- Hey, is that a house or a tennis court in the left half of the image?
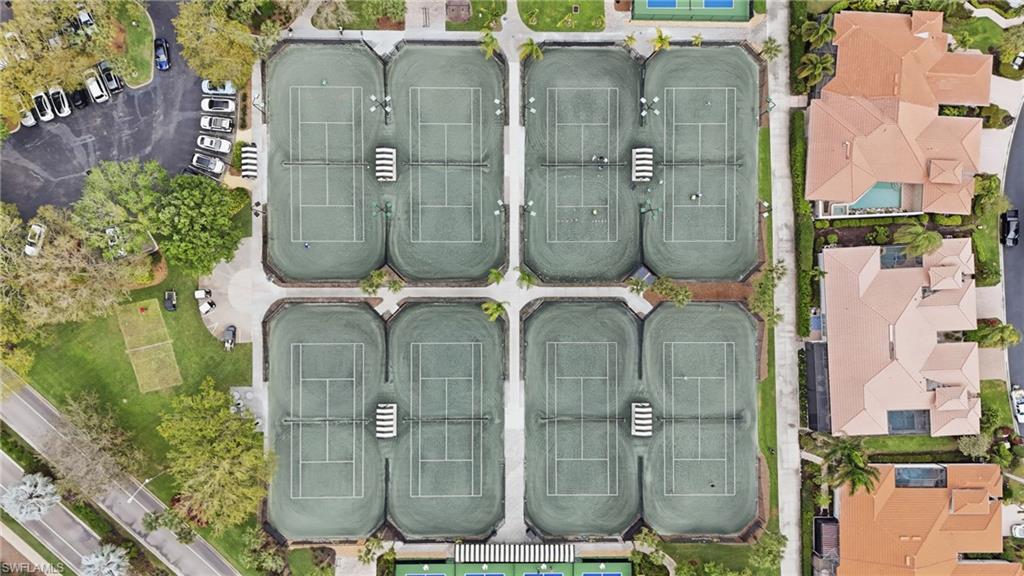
tennis court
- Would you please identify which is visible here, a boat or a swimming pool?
swimming pool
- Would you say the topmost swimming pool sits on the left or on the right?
right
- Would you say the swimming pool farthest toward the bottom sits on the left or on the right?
right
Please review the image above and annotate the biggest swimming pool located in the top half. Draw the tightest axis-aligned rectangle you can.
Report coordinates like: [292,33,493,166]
[814,181,923,216]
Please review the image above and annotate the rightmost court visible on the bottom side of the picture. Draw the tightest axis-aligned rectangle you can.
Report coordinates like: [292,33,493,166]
[642,302,757,538]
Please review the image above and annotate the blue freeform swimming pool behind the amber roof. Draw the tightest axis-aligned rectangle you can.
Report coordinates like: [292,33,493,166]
[894,462,950,487]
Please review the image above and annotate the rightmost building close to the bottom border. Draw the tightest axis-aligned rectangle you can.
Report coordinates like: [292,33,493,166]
[838,463,1020,576]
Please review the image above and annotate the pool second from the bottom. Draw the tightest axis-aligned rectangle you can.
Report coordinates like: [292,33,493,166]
[886,411,929,436]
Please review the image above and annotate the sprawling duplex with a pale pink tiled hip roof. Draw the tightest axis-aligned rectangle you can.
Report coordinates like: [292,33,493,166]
[821,238,981,436]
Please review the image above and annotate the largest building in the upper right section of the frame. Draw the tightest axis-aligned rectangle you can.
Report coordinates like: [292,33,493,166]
[806,11,993,216]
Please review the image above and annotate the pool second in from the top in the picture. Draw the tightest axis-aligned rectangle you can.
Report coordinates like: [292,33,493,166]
[880,246,919,267]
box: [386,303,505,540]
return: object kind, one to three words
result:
tennis court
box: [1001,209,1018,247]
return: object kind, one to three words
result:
vehicle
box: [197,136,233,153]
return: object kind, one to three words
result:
car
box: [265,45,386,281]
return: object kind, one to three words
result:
tennis court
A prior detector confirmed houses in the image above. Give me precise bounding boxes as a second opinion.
[838,463,1020,576]
[806,11,993,216]
[821,238,981,436]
